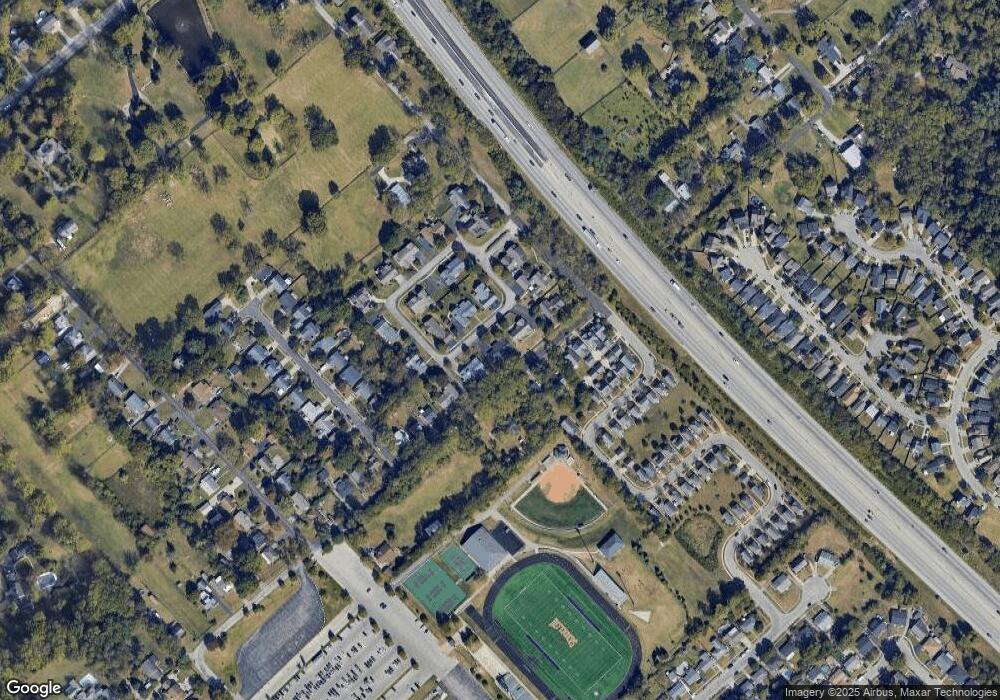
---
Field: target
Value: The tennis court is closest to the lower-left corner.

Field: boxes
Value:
[404,560,466,614]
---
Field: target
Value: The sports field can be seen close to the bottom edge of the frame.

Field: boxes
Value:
[492,561,632,700]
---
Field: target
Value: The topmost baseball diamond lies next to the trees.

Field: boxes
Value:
[512,460,607,530]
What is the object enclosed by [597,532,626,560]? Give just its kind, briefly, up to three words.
building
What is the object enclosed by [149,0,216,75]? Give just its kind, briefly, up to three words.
pond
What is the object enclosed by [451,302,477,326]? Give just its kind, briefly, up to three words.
house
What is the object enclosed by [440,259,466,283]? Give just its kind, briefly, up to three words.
house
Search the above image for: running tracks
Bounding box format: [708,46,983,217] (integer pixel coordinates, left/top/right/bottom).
[463,553,642,700]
